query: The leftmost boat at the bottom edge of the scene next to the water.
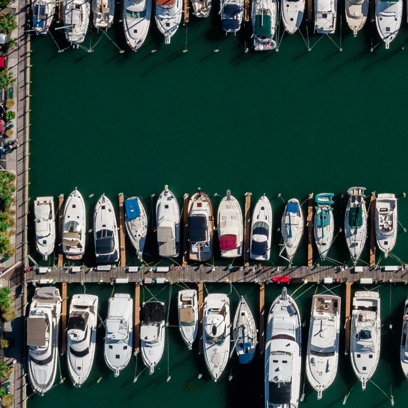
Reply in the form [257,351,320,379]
[25,285,62,402]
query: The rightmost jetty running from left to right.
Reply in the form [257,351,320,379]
[30,264,408,282]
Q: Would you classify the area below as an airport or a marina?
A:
marina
